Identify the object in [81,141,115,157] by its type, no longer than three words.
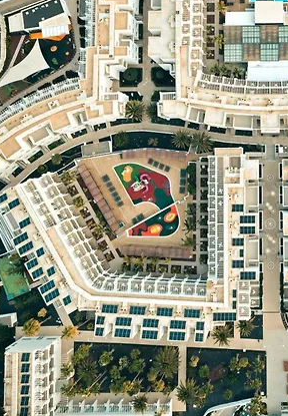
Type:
building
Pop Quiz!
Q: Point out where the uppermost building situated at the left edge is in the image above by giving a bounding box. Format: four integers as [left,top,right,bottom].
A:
[8,0,77,38]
